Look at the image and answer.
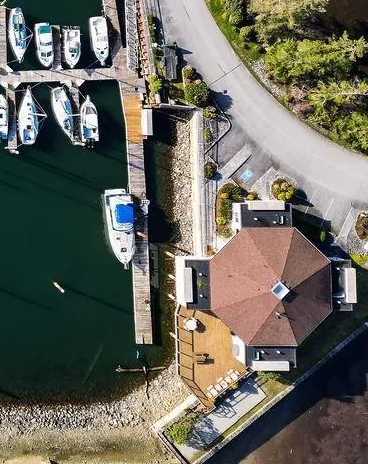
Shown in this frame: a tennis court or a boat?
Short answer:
boat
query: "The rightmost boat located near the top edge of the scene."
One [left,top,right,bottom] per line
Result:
[88,16,110,68]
